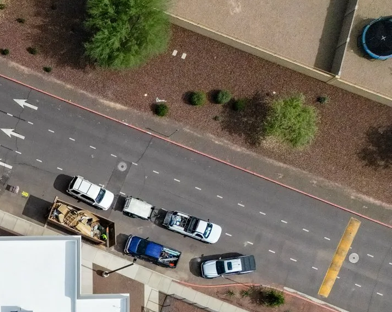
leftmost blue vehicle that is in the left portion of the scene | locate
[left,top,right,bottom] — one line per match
[123,237,181,270]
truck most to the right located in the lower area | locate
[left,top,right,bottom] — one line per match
[199,253,257,279]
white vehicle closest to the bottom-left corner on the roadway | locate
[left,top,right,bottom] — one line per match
[63,177,115,211]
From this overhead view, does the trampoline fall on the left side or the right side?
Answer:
right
